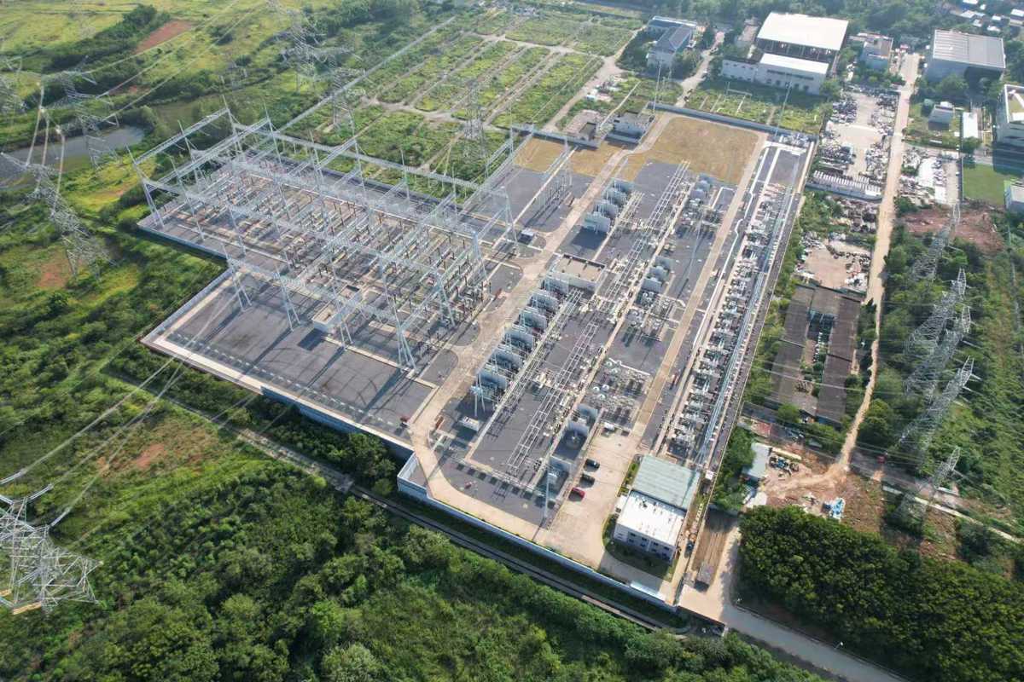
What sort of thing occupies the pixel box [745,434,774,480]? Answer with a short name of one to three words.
shed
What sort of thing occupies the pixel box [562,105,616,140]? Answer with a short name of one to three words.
house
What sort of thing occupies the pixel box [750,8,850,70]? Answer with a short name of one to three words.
building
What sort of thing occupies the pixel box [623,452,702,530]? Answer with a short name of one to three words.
building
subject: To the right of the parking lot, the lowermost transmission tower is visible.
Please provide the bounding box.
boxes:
[880,447,959,534]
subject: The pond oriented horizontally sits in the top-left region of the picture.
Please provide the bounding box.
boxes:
[0,128,142,180]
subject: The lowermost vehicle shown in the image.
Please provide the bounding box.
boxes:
[697,558,717,588]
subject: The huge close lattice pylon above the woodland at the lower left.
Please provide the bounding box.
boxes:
[0,480,116,621]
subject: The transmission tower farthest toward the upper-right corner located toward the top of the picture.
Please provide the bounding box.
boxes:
[899,205,957,292]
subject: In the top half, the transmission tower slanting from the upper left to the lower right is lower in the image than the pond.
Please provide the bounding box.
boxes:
[23,170,135,287]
